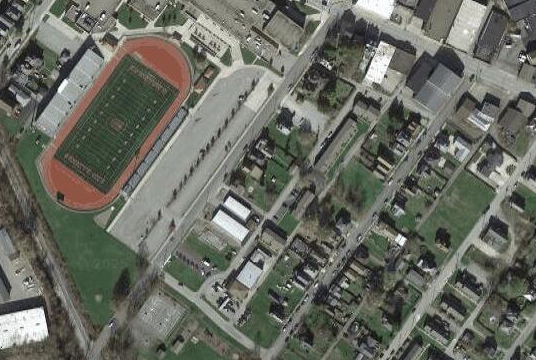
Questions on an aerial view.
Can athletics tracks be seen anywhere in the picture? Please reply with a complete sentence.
Yes, an athletics track can be made out from above.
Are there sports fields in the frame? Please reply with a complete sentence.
Yes, I can see a sports field in this picture.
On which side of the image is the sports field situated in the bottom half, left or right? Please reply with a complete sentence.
The sports field situated in the bottom half is on the left side of the image.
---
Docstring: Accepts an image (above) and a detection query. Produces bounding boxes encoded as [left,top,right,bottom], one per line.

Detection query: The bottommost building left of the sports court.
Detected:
[0,305,47,349]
